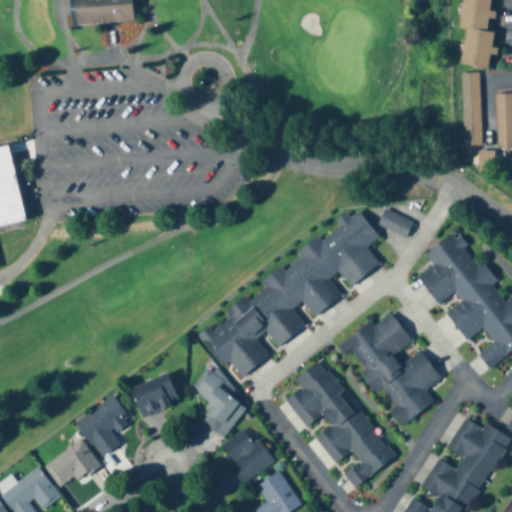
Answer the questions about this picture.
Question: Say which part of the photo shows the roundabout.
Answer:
top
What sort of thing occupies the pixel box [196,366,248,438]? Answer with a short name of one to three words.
house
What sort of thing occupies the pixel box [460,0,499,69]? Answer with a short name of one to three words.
building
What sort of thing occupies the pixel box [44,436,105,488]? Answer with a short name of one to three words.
house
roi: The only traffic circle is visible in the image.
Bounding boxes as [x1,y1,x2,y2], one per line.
[172,51,237,128]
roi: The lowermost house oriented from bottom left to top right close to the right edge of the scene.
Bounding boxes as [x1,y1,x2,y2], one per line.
[406,414,512,512]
